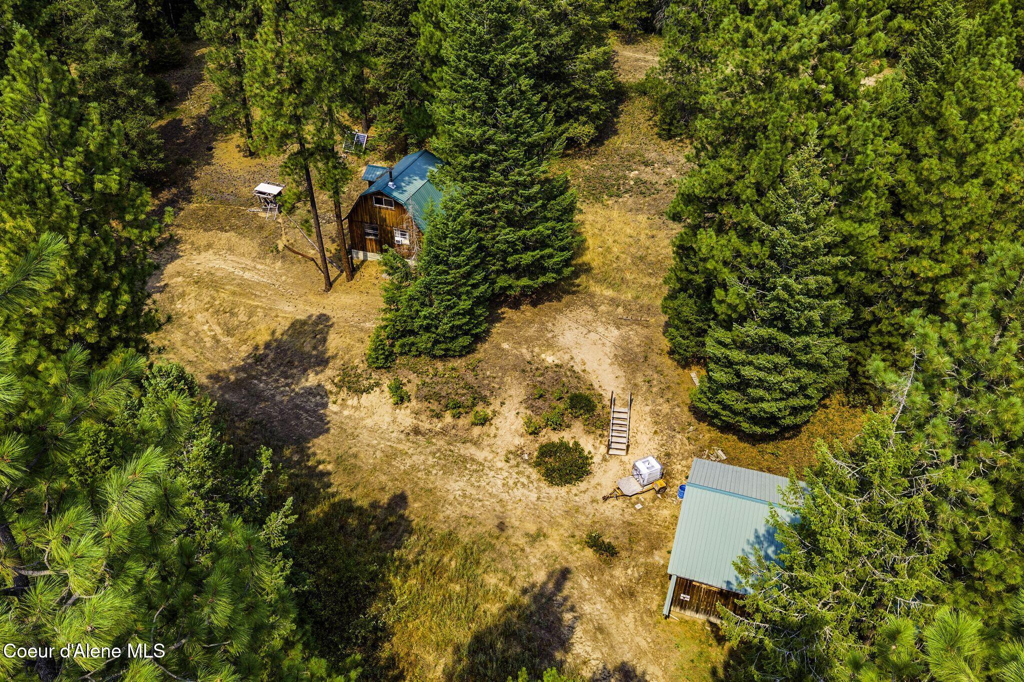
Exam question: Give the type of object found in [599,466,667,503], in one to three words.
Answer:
trailer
